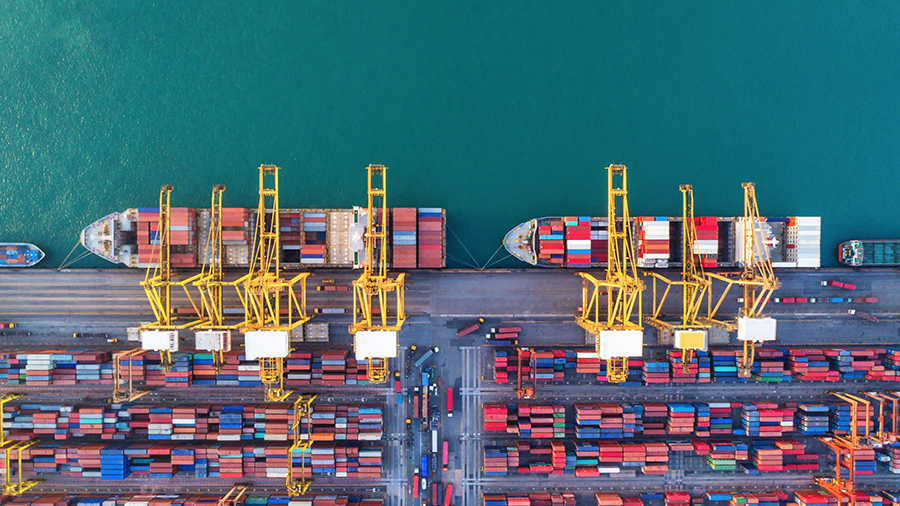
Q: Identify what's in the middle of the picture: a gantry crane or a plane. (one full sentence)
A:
What appears in the middle of the picture is a gantry crane.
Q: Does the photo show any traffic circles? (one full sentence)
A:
No, the scene contains no traffic circle.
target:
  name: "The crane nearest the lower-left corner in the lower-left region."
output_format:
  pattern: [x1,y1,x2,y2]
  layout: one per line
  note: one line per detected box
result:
[4,437,45,503]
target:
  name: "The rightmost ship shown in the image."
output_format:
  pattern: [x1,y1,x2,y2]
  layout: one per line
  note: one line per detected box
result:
[834,238,900,266]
